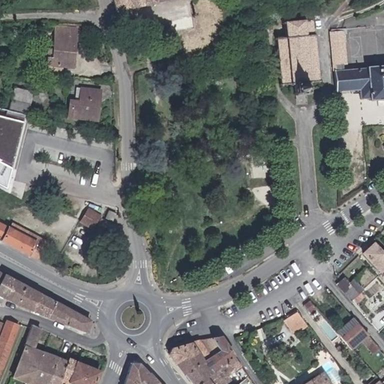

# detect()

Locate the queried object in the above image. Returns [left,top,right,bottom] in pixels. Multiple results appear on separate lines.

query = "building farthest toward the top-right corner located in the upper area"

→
[328,28,348,66]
